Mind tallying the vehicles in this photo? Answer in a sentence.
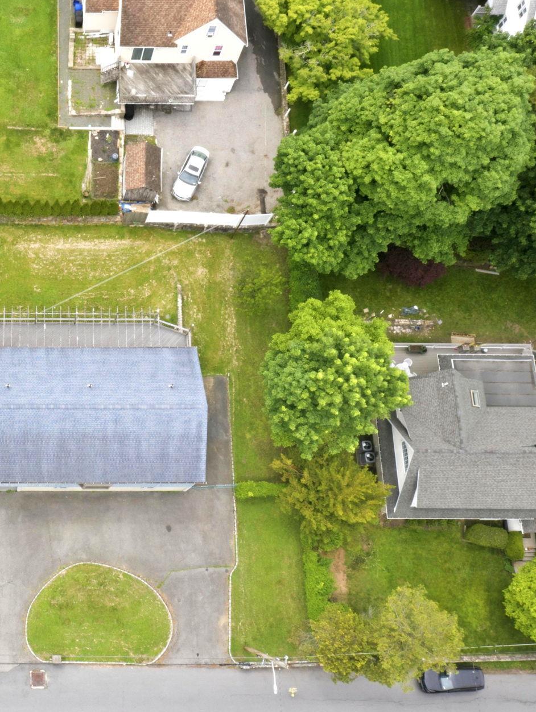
There are 2 vehicles in the image.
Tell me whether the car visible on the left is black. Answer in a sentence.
No, the car visible on the left is actually white.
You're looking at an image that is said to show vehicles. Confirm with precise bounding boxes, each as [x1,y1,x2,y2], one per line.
[414,662,488,699]
[173,146,208,204]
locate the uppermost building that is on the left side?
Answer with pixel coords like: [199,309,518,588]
[83,0,247,113]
